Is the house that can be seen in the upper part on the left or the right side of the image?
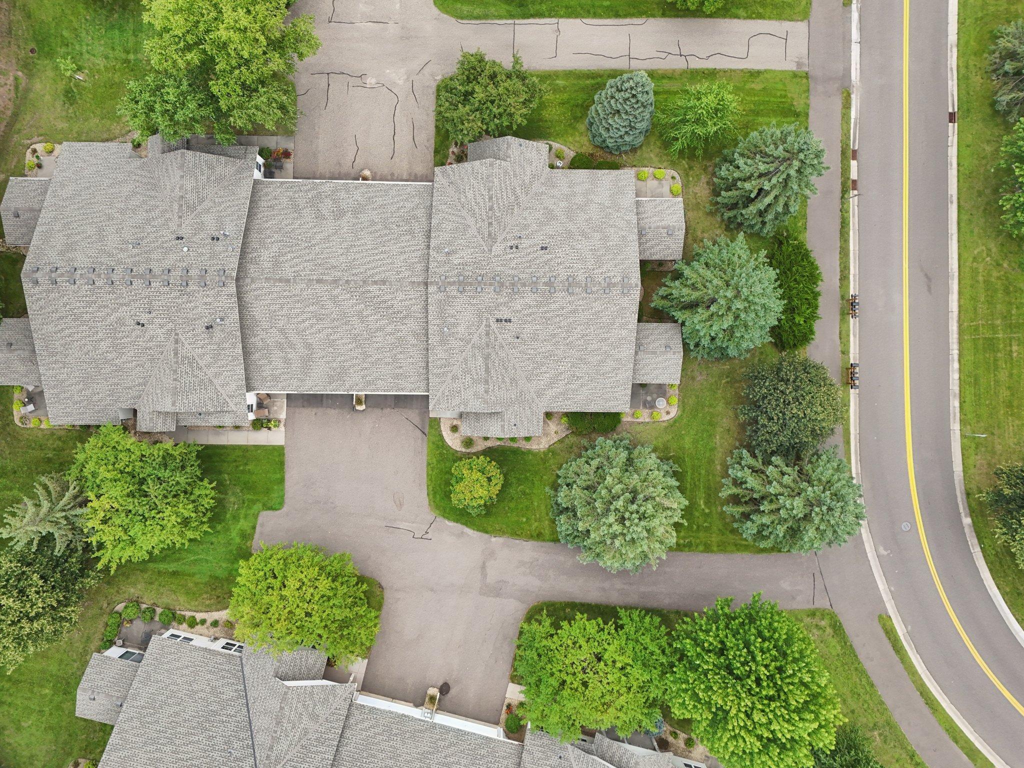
left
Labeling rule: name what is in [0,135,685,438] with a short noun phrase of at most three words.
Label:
house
